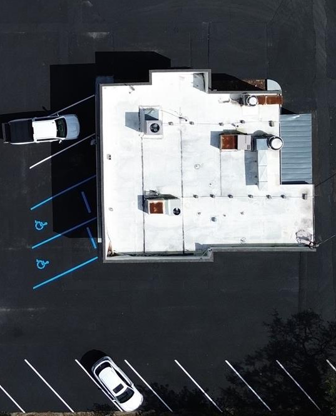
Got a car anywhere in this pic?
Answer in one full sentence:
Yes, a car is visible in the scene.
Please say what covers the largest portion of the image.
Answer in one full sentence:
For the most part, this view shows paved ground.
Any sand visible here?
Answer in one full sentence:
No, there's no sand in this view.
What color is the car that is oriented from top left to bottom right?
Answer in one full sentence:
From above, the car that is oriented from top left to bottom right appears white.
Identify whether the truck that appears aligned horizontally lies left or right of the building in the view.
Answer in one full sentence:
Looking at the picture, you'll find the truck that appears aligned horizontally to the left of the building.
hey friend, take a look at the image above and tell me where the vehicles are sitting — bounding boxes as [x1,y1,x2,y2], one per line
[92,355,143,414]
[0,113,81,144]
